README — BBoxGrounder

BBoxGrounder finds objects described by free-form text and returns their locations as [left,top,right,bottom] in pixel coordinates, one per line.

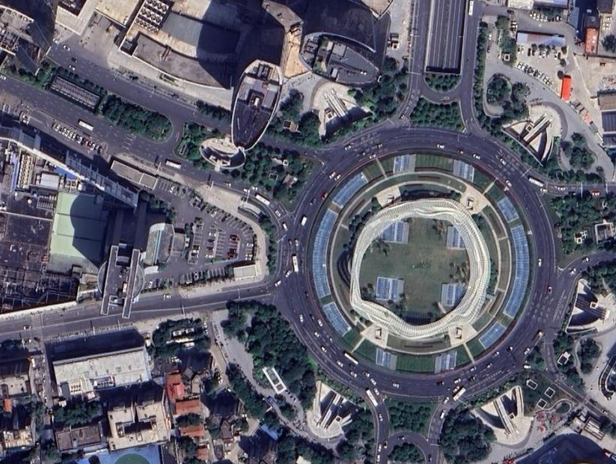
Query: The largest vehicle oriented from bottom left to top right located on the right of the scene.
[451,387,466,404]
